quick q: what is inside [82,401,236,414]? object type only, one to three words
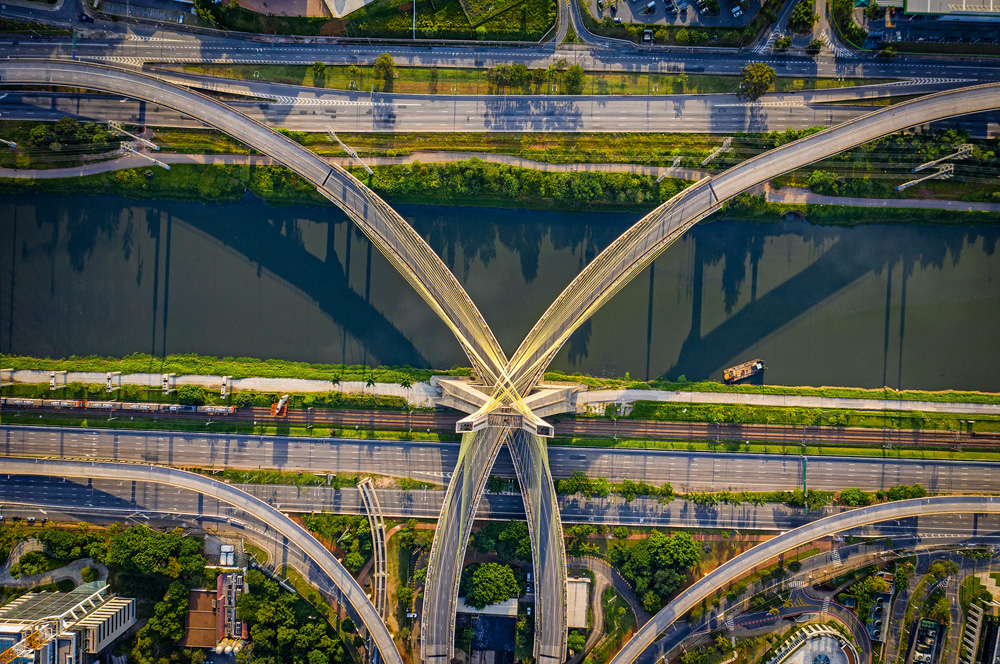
train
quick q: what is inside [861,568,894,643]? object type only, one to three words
house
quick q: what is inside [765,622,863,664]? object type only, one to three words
building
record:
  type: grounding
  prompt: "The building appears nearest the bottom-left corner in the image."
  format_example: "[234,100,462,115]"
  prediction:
[0,574,135,664]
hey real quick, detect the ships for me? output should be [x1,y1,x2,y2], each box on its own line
[726,356,765,382]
